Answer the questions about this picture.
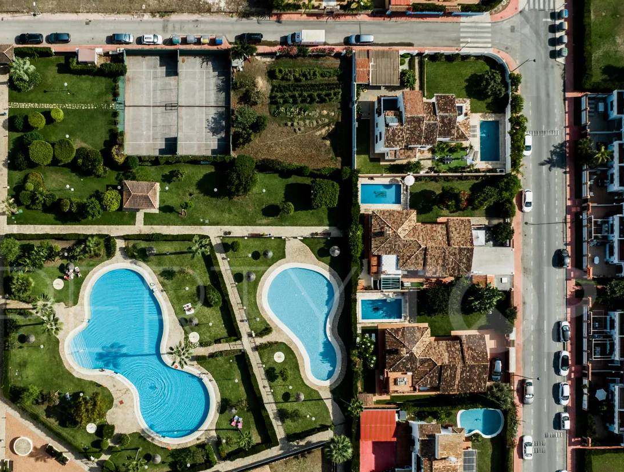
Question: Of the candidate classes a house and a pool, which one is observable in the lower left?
pool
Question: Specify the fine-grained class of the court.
tennis court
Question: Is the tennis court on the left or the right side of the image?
left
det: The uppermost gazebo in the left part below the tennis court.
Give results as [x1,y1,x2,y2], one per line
[122,180,159,211]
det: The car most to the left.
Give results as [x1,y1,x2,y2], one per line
[18,32,42,45]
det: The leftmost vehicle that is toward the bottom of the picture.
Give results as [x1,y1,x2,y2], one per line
[490,359,503,379]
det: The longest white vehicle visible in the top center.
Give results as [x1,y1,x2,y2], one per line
[288,28,325,45]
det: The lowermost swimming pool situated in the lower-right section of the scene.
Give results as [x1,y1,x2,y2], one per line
[457,408,504,437]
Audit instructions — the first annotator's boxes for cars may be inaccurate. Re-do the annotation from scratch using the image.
[521,189,534,212]
[557,351,571,376]
[521,435,534,459]
[49,32,71,44]
[141,33,163,44]
[18,32,42,45]
[558,382,572,405]
[524,134,534,157]
[490,359,503,379]
[239,32,263,44]
[559,412,570,430]
[559,321,570,341]
[558,248,569,268]
[523,379,535,404]
[349,32,374,45]
[111,32,134,44]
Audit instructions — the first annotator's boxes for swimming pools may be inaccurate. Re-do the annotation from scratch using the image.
[262,262,342,386]
[360,297,405,322]
[66,264,215,443]
[478,119,502,162]
[360,183,403,205]
[457,408,504,437]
